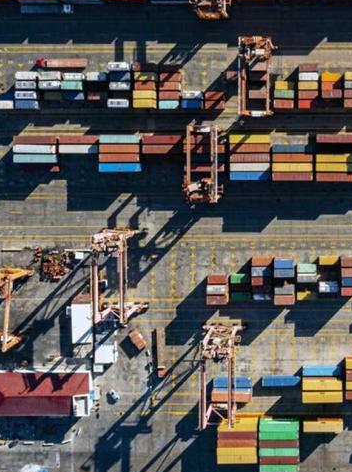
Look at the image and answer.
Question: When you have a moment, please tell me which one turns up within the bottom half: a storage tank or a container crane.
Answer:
container crane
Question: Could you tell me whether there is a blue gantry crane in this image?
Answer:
No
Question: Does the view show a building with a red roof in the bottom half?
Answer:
Yes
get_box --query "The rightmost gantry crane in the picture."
[227,32,284,121]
